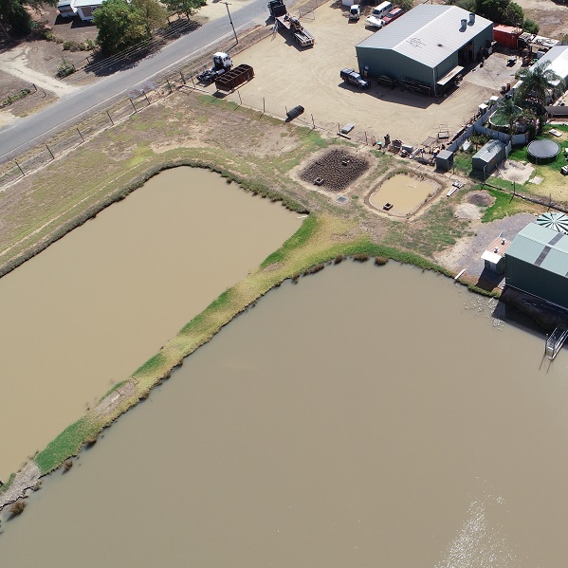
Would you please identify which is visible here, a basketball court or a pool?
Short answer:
pool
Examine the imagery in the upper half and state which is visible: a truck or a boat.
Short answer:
truck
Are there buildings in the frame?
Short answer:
Yes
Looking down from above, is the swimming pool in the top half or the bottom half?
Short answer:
top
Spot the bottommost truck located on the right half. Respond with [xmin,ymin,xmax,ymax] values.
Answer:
[341,67,368,88]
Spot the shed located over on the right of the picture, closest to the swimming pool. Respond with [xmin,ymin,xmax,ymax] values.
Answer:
[474,140,506,174]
